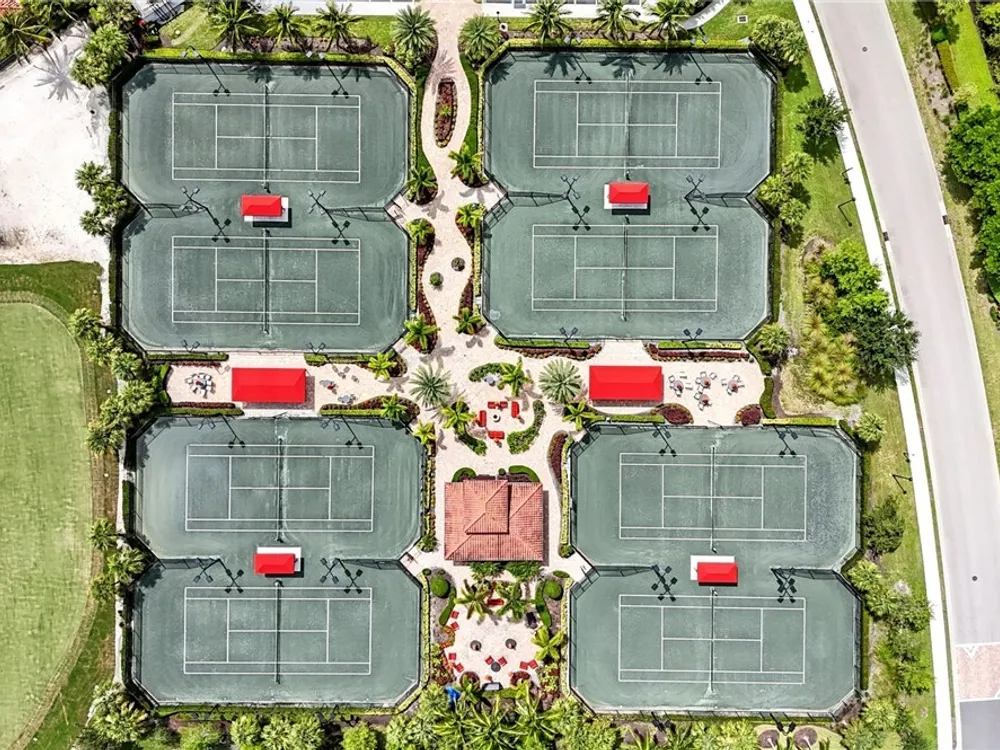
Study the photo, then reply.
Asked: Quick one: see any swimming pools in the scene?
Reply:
No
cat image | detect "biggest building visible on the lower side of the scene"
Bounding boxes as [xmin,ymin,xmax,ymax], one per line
[444,479,544,562]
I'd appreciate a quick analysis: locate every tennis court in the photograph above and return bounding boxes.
[123,207,407,352]
[135,560,421,706]
[137,419,421,562]
[571,564,854,713]
[485,53,770,197]
[572,425,855,569]
[123,64,407,208]
[484,192,769,341]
